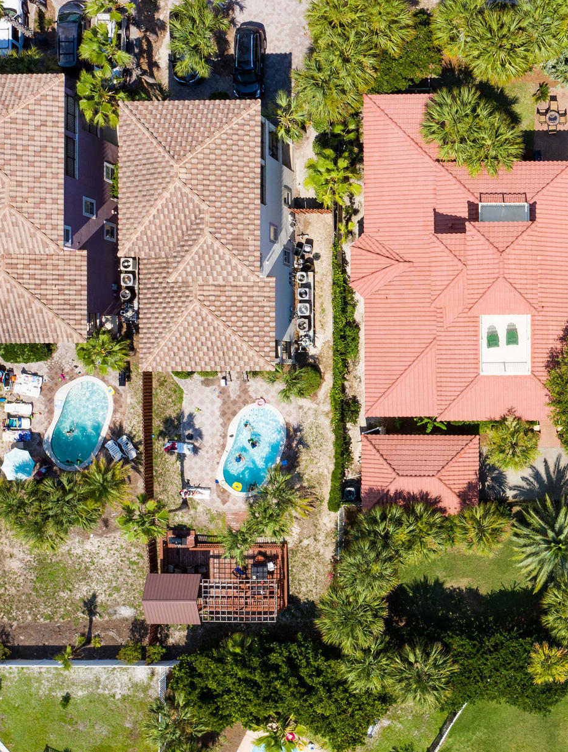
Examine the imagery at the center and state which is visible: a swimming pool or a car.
swimming pool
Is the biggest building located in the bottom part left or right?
right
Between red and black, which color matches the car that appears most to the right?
black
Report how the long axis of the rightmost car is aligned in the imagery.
up and down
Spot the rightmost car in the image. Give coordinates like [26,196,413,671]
[228,18,271,105]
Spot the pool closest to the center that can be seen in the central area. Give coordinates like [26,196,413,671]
[217,404,286,496]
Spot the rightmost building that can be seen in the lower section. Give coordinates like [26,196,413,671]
[359,434,480,517]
